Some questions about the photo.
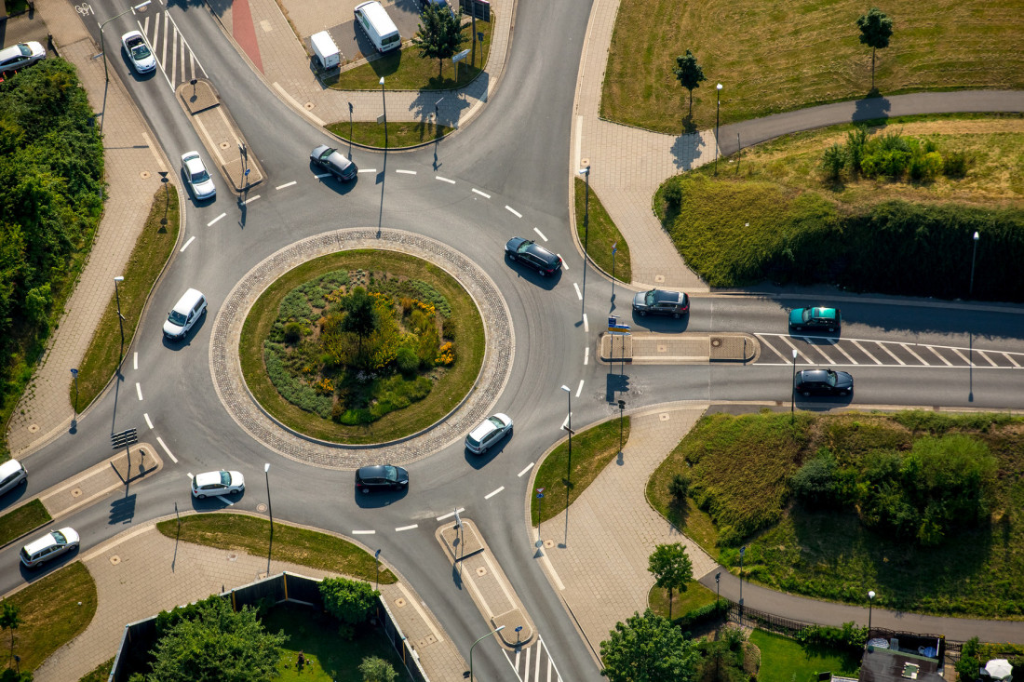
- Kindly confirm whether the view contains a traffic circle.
Yes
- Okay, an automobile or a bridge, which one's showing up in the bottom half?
automobile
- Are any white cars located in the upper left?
Yes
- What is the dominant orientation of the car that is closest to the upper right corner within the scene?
from side to side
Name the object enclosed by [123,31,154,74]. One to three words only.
car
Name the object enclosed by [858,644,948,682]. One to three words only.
shed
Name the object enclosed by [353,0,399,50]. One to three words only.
van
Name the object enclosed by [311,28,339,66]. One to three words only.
trailer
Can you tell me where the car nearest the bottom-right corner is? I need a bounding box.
[796,370,852,397]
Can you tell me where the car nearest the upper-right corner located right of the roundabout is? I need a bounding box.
[790,308,841,334]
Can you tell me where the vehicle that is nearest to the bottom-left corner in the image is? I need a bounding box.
[19,530,80,568]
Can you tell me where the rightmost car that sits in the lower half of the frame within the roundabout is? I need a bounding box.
[463,417,514,457]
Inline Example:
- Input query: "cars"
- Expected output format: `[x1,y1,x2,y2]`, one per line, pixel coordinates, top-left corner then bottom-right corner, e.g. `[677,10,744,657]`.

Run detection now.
[632,290,690,320]
[0,47,42,80]
[0,464,30,496]
[309,147,359,186]
[180,153,215,201]
[355,466,408,492]
[790,308,841,334]
[796,370,852,397]
[19,530,80,568]
[424,0,455,15]
[192,471,245,500]
[505,239,563,278]
[463,417,514,457]
[123,31,154,74]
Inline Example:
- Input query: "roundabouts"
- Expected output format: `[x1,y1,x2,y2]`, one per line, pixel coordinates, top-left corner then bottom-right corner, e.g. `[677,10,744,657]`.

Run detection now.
[134,169,589,534]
